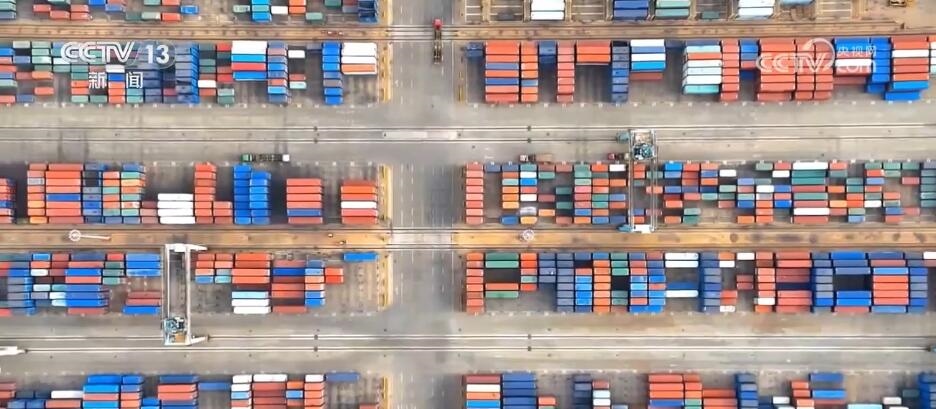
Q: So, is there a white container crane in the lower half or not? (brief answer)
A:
Yes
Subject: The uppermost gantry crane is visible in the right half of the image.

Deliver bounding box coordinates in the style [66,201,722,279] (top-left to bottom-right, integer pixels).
[611,129,661,237]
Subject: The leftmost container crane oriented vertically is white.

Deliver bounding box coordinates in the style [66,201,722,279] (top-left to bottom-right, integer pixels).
[159,242,210,347]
